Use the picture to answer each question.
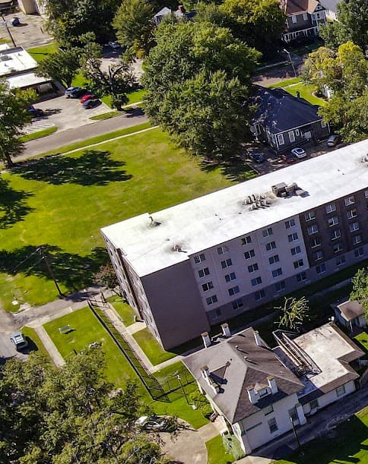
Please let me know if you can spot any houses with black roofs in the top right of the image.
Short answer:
Yes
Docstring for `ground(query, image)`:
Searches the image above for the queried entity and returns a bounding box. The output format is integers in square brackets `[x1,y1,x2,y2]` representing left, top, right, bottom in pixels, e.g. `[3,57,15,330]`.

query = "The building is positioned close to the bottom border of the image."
[182,319,368,452]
